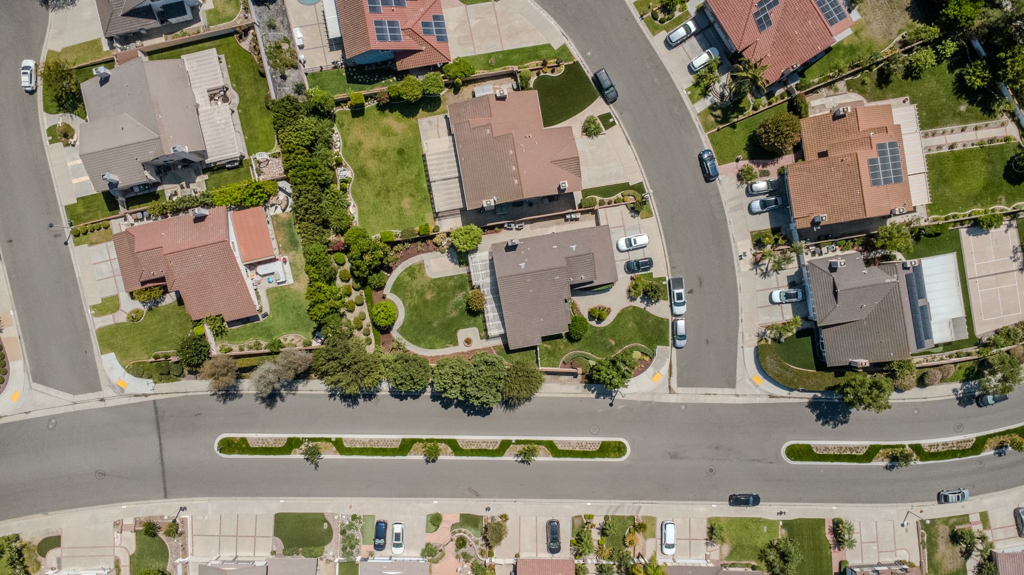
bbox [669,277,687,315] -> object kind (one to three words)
vehicle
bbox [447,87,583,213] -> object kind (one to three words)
house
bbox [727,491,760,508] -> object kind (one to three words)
car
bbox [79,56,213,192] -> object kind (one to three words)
house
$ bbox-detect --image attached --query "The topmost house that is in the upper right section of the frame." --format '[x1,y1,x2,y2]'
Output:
[693,0,854,92]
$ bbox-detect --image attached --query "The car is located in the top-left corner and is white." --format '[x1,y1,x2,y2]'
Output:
[19,59,40,93]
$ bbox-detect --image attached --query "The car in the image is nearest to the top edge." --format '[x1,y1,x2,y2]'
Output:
[664,20,698,46]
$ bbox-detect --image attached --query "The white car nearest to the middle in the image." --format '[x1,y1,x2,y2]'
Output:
[616,234,650,251]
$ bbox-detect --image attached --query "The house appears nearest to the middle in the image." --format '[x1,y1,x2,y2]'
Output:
[491,225,618,350]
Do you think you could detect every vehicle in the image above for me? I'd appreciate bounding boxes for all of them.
[661,520,677,555]
[1013,503,1024,538]
[664,20,698,46]
[769,289,803,304]
[972,391,1009,409]
[546,518,562,554]
[727,491,760,508]
[698,149,717,182]
[669,277,687,315]
[672,318,688,348]
[19,59,40,93]
[592,69,616,103]
[372,519,388,551]
[687,47,719,72]
[624,258,654,273]
[748,197,782,213]
[745,178,778,195]
[389,519,405,554]
[616,234,650,251]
